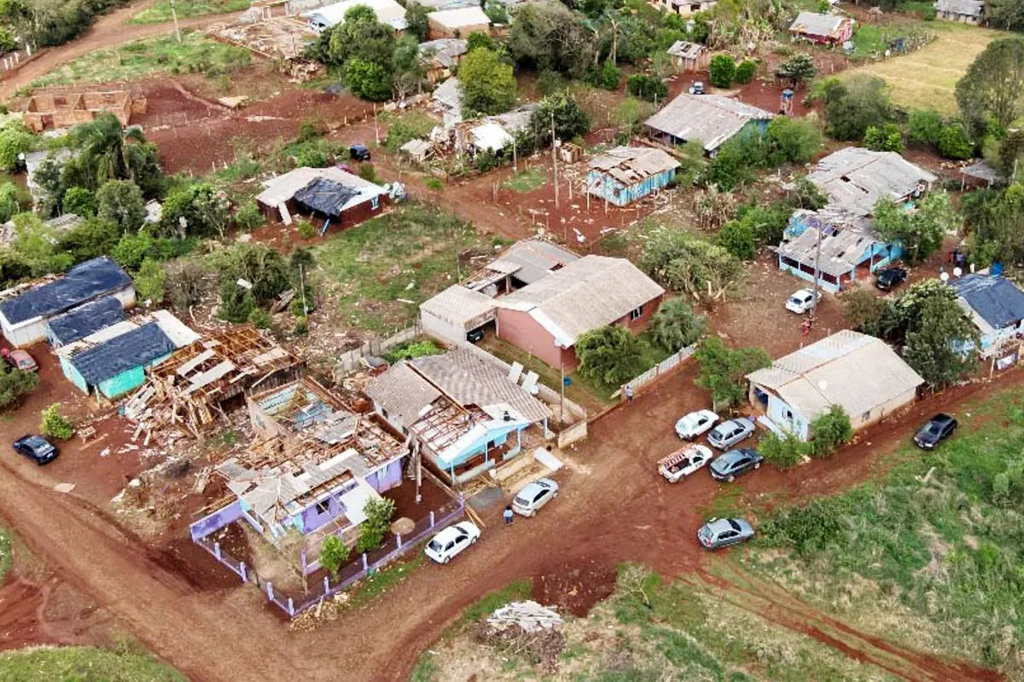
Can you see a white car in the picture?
Yes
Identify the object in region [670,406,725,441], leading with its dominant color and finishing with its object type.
white car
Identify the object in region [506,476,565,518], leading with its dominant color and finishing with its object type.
white car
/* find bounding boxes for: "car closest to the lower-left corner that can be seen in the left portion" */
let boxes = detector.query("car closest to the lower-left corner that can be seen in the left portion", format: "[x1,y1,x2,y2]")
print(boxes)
[6,430,64,464]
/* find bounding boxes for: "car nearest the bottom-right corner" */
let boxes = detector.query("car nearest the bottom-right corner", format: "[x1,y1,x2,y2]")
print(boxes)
[911,410,964,450]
